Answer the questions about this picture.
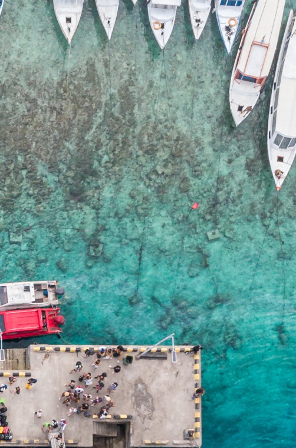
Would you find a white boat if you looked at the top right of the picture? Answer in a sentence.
Yes, there is a white boat at the top right of the picture.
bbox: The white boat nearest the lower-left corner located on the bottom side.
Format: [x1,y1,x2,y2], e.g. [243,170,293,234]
[0,279,66,310]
